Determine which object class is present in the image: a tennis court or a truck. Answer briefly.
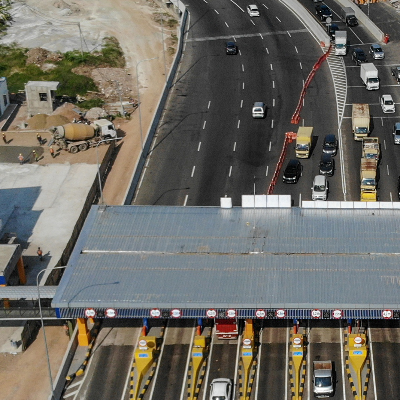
truck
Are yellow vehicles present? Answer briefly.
Yes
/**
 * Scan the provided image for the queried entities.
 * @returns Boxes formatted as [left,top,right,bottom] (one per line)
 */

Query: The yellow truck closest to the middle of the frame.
[293,126,314,160]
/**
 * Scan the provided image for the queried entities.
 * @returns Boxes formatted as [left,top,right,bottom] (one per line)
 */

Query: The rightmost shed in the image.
[21,73,70,111]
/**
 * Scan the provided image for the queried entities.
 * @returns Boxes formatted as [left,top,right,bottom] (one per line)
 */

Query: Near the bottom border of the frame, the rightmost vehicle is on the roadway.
[311,362,338,399]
